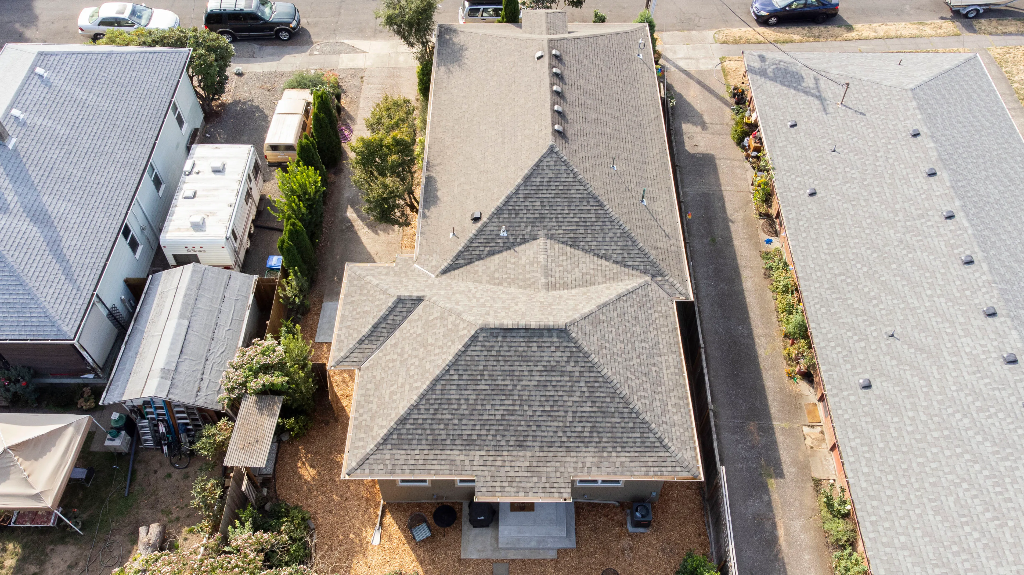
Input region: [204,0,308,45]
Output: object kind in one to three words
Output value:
car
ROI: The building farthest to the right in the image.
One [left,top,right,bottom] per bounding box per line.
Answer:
[739,49,1024,575]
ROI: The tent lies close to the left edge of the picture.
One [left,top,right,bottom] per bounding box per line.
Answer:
[0,414,105,538]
